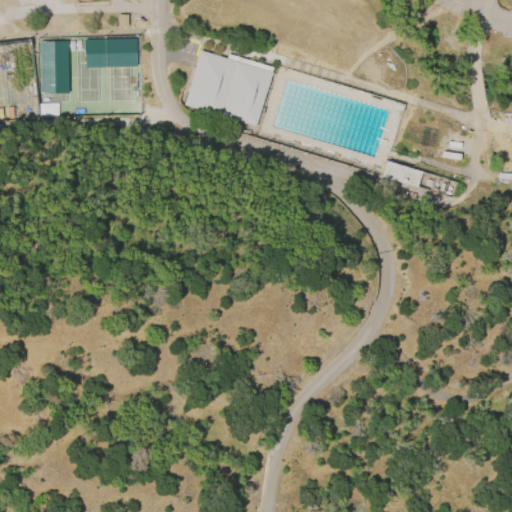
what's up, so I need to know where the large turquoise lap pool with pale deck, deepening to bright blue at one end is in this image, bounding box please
[256,67,408,173]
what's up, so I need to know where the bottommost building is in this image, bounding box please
[383,160,424,188]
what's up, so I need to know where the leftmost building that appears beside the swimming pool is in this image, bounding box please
[187,50,274,127]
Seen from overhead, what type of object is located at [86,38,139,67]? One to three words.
building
